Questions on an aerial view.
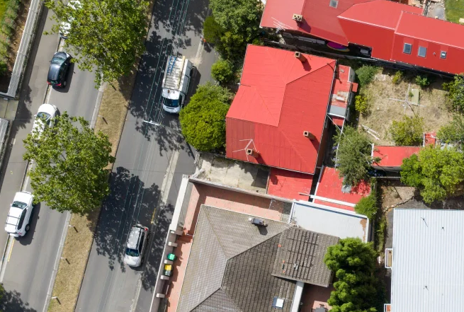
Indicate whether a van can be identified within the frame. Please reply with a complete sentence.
Yes, a van is visible in the scene.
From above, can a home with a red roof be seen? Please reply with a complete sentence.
Yes, the image includes a home with a red roof.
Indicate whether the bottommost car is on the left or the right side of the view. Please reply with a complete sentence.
The bottommost car appears in the left half of the scene.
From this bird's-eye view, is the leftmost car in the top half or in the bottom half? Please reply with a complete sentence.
Seen from above, the leftmost car lies in the bottom half of the view.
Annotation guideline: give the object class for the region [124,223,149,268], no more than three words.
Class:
car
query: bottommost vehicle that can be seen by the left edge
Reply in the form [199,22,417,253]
[2,191,34,237]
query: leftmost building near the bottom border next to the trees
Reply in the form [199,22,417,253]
[176,199,373,312]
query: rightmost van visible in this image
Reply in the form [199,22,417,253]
[160,58,189,110]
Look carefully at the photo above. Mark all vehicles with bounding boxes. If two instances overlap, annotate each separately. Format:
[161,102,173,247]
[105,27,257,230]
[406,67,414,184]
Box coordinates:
[2,191,34,237]
[31,102,57,131]
[124,223,149,268]
[160,58,189,110]
[48,51,72,90]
